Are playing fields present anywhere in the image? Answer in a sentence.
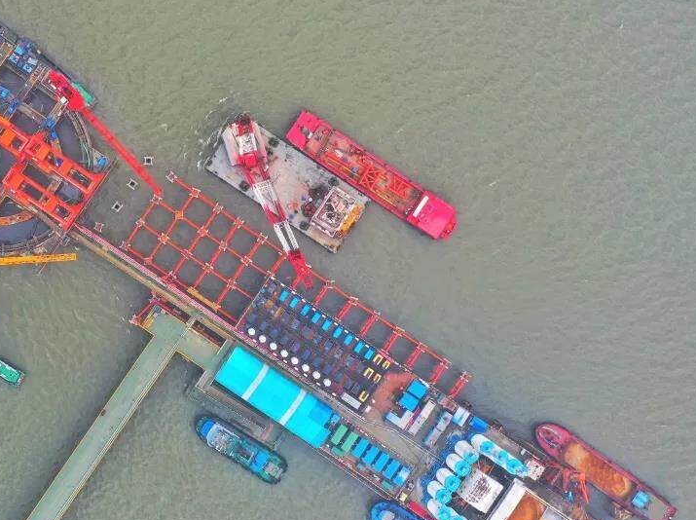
No, no playing field can be seen from above.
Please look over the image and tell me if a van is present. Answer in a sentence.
No, the photo shows no van.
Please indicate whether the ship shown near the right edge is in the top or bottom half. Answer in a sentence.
The ship shown near the right edge is in the bottom half of the image.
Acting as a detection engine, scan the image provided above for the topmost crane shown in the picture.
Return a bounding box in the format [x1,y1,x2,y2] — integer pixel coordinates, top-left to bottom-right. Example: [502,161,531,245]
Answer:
[47,69,165,201]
